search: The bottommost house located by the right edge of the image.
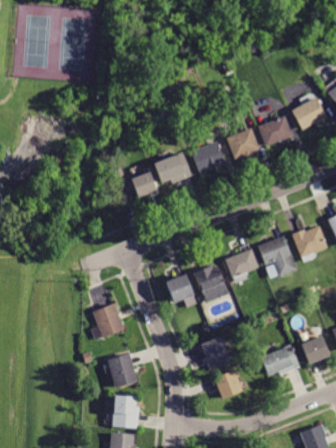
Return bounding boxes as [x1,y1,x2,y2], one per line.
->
[300,424,330,448]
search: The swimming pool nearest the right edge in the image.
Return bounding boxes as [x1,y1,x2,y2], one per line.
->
[290,314,307,330]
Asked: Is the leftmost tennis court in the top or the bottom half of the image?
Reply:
top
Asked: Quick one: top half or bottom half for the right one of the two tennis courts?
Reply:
top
